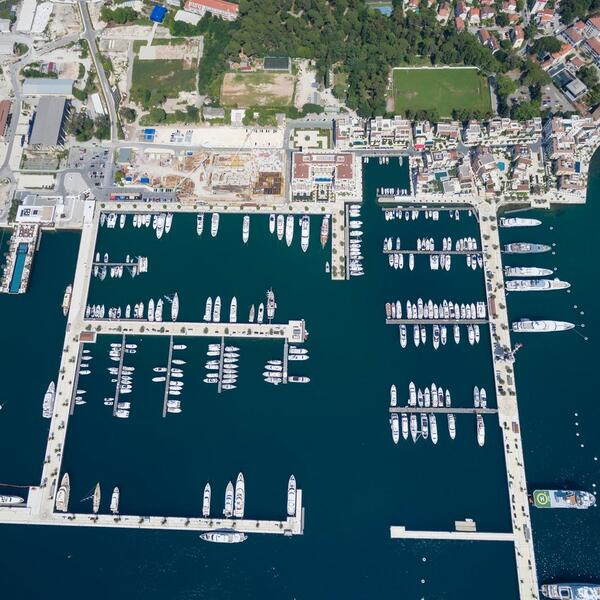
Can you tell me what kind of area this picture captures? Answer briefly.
port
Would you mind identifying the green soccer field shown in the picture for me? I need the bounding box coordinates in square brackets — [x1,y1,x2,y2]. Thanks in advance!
[391,69,493,115]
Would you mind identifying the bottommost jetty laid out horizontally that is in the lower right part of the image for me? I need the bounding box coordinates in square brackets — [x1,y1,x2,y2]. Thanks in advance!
[390,526,514,540]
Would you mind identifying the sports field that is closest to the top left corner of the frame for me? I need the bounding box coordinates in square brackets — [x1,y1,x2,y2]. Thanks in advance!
[221,73,294,105]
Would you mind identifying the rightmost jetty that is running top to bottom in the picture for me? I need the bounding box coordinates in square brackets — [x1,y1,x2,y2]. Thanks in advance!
[479,215,540,600]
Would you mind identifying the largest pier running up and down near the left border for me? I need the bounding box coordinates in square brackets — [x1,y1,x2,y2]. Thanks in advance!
[27,211,98,513]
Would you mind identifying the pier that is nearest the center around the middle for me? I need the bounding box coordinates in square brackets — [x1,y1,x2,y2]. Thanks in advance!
[288,320,305,343]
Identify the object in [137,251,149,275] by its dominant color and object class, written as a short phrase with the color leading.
white boat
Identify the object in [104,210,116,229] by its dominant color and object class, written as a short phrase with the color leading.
white boat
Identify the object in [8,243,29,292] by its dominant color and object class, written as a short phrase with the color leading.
blue swimming pool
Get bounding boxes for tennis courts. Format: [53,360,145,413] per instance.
[369,1,395,16]
[263,57,290,70]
